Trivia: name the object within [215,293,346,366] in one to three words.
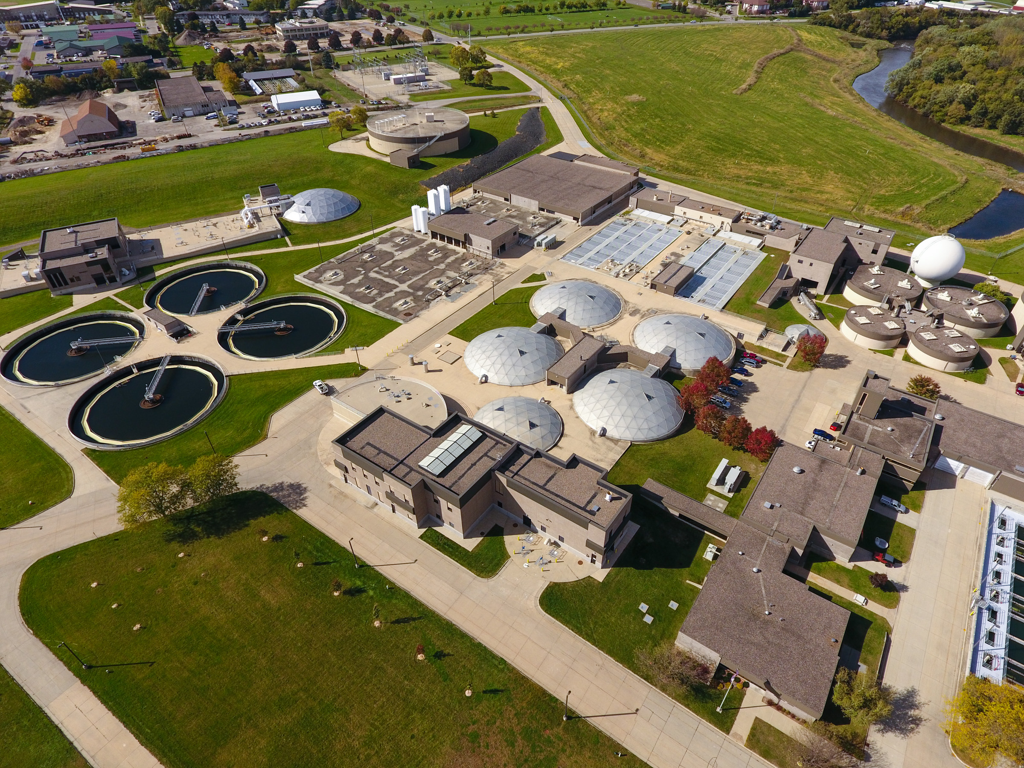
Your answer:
storage tank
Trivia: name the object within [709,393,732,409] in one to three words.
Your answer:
vehicle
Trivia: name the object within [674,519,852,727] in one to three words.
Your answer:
building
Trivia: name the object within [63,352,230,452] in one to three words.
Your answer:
storage tank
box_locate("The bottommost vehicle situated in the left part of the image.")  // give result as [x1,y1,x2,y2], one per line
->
[313,381,328,394]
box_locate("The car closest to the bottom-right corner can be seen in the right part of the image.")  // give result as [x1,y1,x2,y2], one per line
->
[871,552,898,569]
